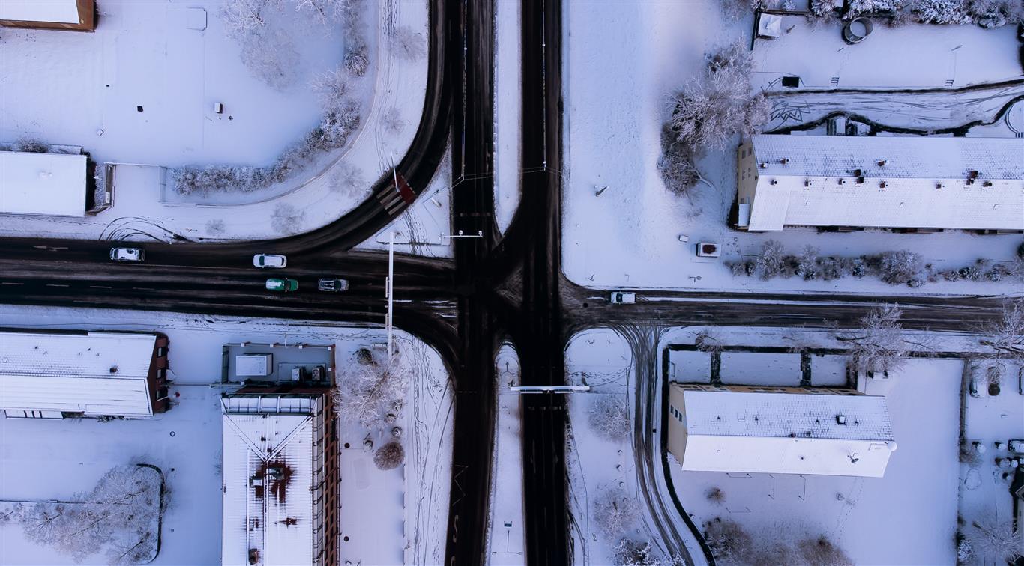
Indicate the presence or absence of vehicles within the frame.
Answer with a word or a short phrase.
Yes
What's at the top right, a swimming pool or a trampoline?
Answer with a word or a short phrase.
trampoline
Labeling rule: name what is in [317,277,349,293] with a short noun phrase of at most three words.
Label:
car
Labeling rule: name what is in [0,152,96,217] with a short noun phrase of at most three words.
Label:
building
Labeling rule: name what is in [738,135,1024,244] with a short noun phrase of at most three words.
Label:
house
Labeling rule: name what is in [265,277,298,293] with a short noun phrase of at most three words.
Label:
car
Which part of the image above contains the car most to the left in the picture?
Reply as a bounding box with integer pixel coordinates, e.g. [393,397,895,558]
[110,246,144,263]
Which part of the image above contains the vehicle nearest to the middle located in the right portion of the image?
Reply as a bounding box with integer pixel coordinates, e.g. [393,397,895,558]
[609,290,636,306]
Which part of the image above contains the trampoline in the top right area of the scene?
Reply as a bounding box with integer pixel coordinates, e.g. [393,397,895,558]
[841,14,873,42]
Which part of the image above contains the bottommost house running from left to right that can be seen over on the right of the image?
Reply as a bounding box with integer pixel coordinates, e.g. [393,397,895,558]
[669,384,897,475]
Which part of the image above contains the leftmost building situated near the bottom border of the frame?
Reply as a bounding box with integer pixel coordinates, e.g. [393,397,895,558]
[217,384,339,566]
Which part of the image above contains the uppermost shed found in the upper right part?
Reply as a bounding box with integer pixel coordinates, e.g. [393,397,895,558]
[759,12,784,38]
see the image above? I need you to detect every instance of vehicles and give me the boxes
[110,246,144,263]
[609,290,636,306]
[253,253,287,269]
[317,277,349,293]
[986,371,1004,401]
[969,369,984,398]
[265,277,298,293]
[1003,440,1024,454]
